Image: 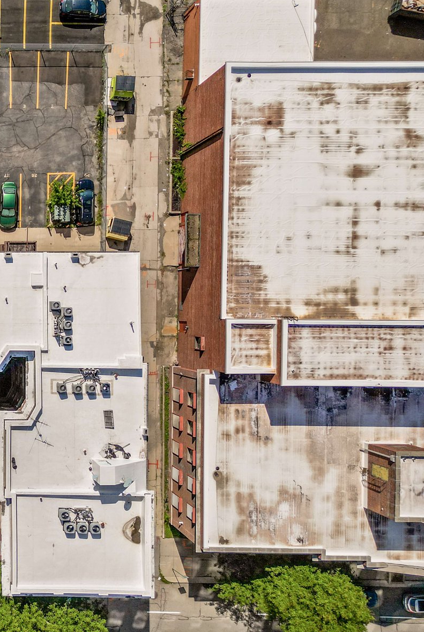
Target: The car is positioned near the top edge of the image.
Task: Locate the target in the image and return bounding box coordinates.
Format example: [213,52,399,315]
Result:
[59,0,105,21]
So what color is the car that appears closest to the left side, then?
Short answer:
green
